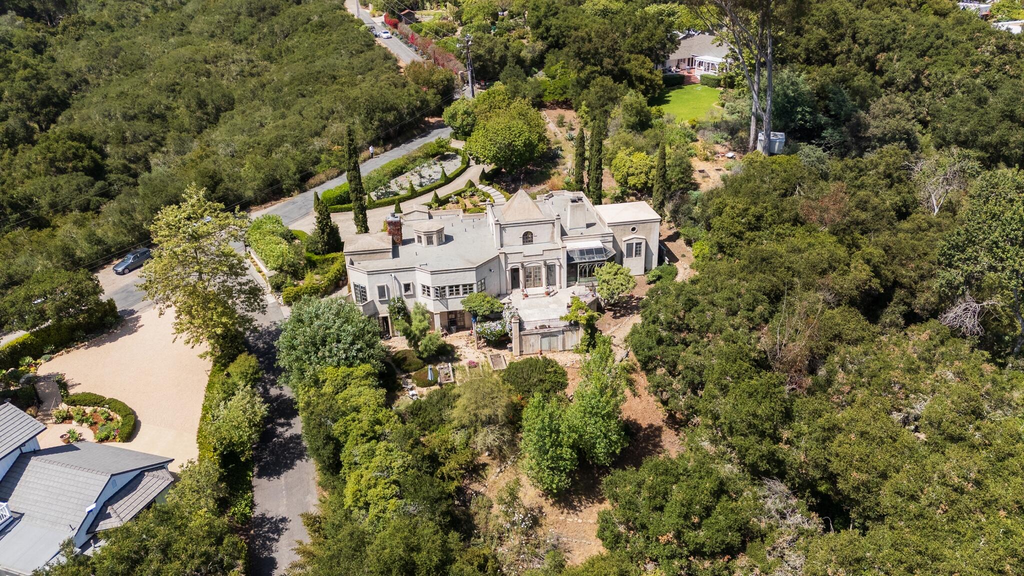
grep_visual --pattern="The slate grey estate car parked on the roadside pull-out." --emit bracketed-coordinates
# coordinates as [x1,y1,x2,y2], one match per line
[105,246,158,276]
